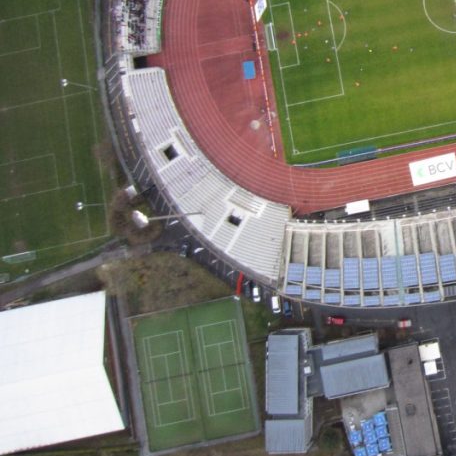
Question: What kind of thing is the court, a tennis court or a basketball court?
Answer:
tennis court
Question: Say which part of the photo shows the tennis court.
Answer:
bottom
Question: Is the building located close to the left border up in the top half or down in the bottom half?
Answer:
bottom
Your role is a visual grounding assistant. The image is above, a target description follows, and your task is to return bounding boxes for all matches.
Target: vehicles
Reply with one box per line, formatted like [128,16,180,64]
[282,300,292,317]
[245,282,253,299]
[253,286,262,303]
[270,295,280,314]
[396,319,413,328]
[325,316,344,326]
